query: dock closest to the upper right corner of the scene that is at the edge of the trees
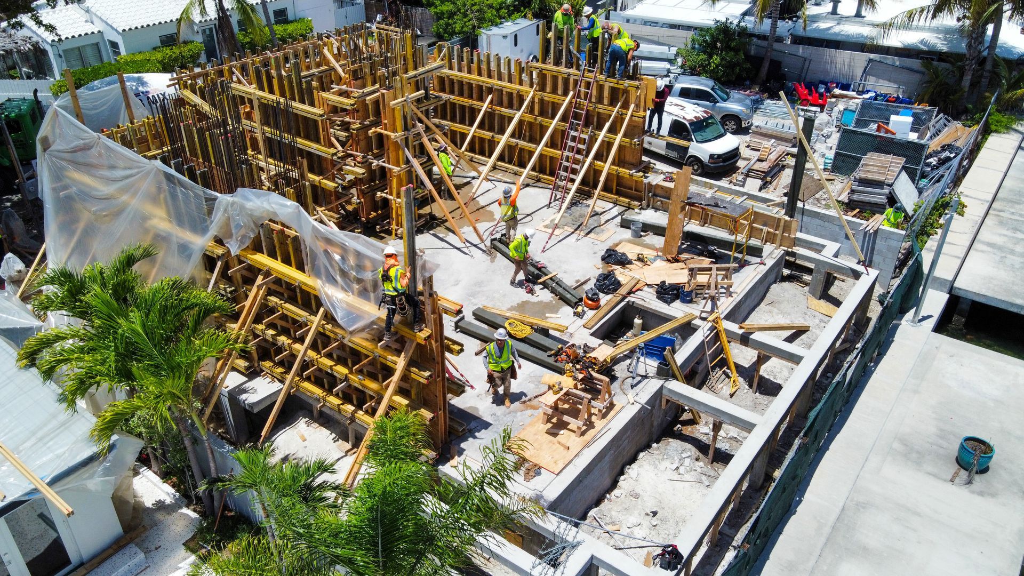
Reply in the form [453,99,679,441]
[948,141,1024,323]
